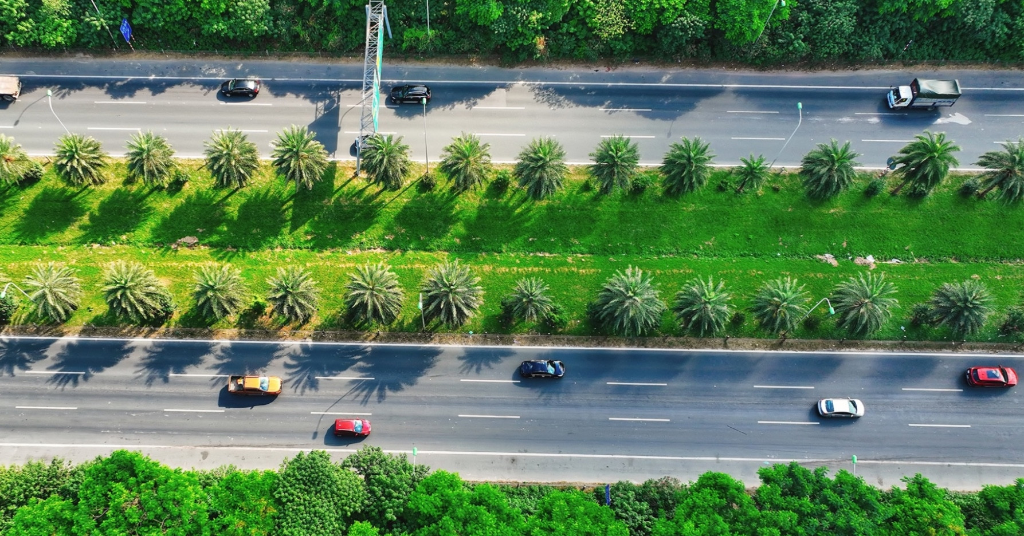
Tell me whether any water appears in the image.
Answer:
No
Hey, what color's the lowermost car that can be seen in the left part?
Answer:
red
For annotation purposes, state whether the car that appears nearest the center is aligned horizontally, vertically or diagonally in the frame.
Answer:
horizontally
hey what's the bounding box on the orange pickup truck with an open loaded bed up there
[227,373,284,396]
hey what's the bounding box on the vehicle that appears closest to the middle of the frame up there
[520,357,566,379]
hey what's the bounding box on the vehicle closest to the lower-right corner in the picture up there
[964,364,1016,387]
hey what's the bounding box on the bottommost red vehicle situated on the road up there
[334,417,373,438]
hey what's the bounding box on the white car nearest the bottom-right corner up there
[815,396,864,418]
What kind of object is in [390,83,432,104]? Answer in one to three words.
car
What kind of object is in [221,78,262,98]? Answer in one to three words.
car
